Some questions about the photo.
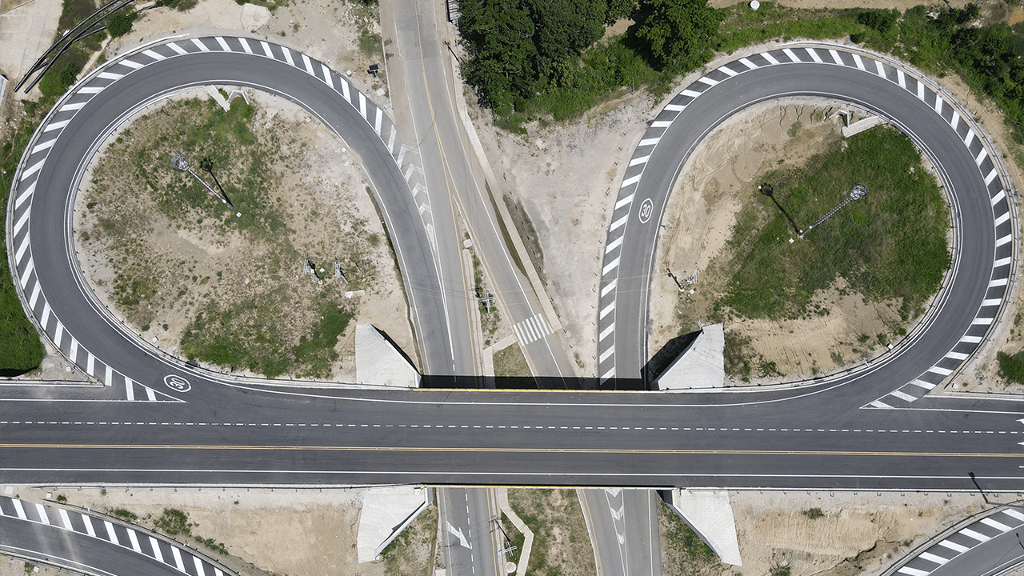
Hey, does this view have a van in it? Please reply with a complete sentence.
No, there's no van here.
